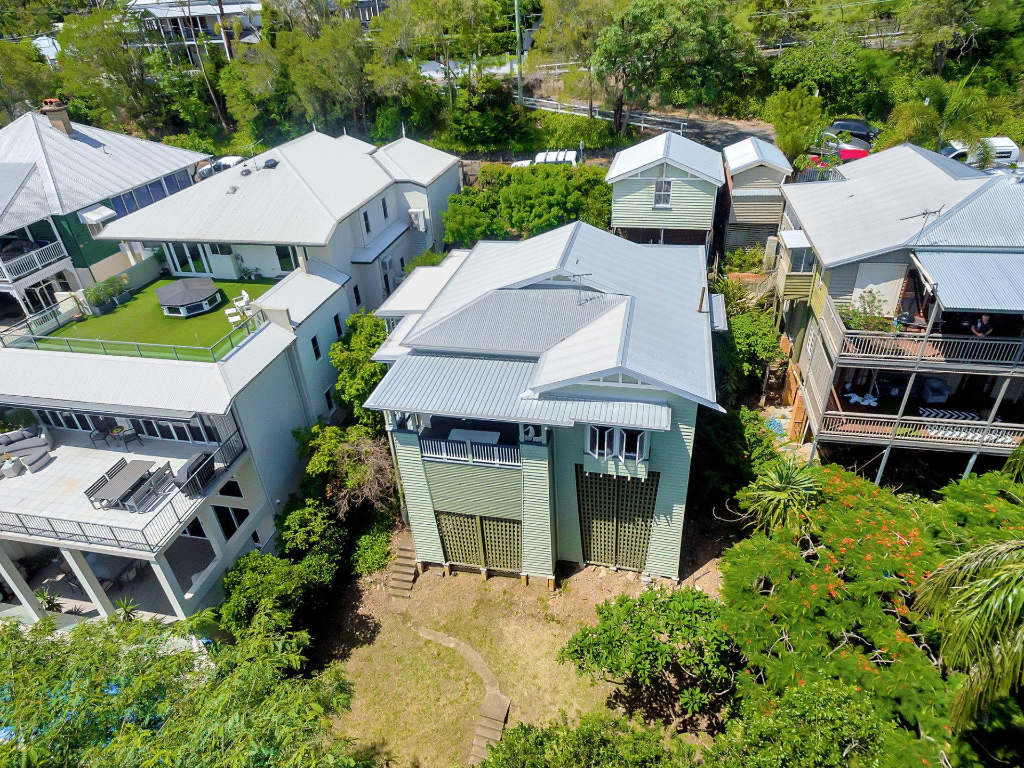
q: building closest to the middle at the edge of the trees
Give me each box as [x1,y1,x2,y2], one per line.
[357,216,737,591]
